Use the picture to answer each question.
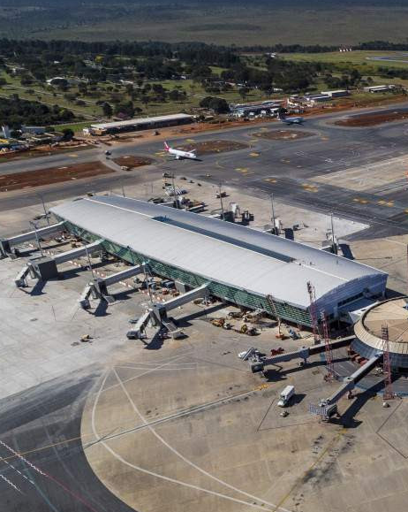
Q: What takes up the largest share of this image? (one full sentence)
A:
The largest share of the image is taken up by paved ground.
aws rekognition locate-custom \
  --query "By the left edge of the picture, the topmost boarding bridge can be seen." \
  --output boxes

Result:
[0,222,80,261]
